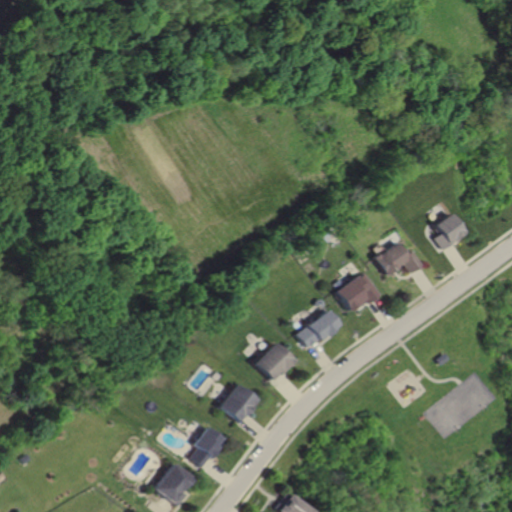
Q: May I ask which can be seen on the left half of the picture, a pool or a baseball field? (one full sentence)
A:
There is a pool on the left half of the picture.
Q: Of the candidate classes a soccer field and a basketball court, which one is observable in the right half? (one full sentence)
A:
Visible in the right half is a basketball court.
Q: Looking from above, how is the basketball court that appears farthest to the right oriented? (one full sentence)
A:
The basketball court that appears farthest to the right is laid out on a diagonal.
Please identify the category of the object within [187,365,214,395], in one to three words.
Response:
swimming pool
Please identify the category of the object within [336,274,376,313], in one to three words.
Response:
house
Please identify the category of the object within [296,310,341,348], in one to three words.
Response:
house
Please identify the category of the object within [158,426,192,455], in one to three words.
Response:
swimming pool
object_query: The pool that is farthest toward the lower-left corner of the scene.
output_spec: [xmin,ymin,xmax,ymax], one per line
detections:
[124,448,160,482]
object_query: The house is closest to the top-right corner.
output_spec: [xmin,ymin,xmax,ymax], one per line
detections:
[432,214,464,250]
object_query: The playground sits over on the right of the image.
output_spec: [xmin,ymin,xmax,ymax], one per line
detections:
[387,368,426,408]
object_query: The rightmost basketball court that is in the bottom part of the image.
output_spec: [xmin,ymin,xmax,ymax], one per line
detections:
[424,373,496,438]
